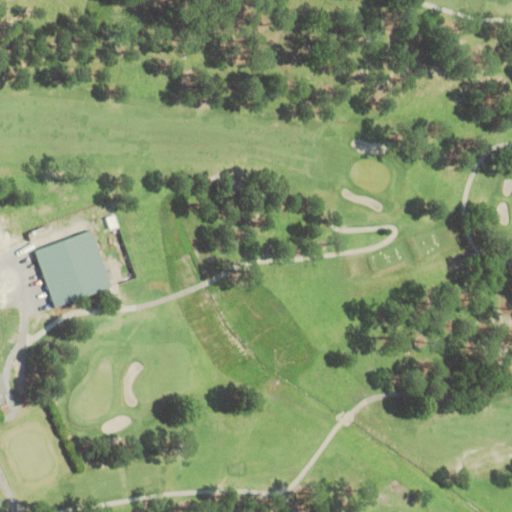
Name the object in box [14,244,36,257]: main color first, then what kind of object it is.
white vehicle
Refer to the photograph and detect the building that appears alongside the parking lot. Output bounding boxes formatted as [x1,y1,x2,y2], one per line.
[36,230,110,308]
